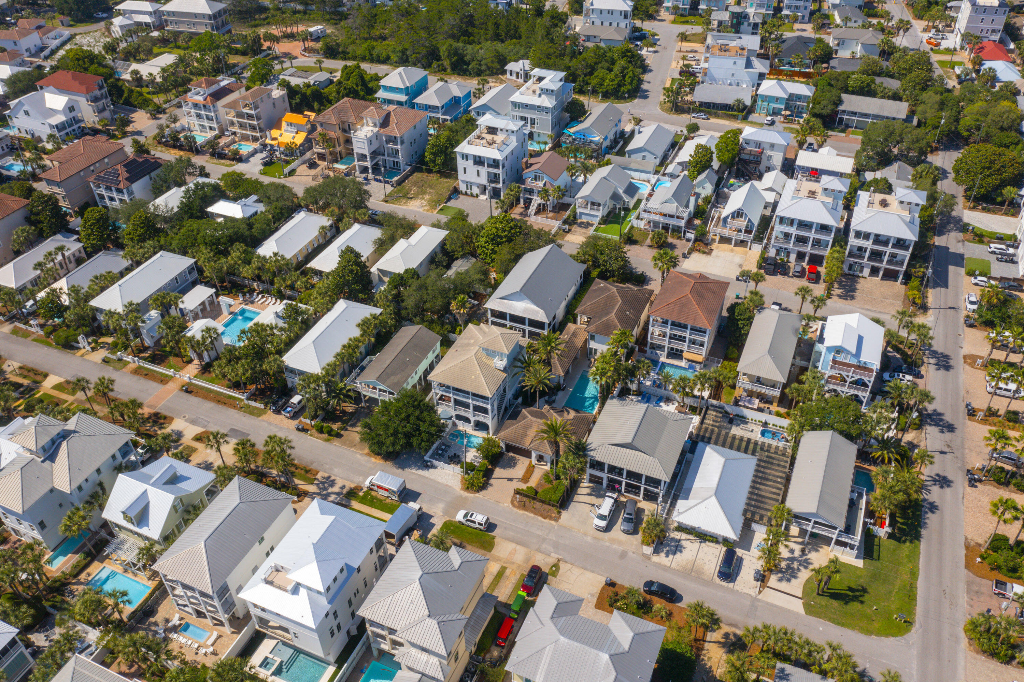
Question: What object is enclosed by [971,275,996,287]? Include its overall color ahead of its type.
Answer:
white vehicle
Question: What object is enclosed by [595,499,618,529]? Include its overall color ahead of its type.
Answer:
white car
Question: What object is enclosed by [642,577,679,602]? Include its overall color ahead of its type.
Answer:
black car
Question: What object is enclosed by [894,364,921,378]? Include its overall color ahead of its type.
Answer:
black car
